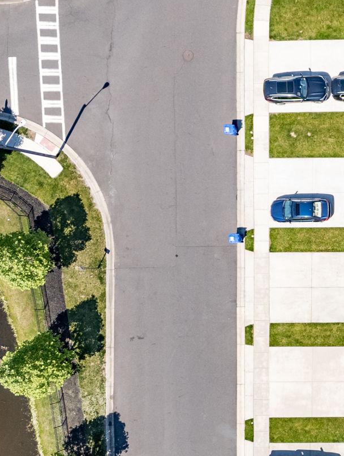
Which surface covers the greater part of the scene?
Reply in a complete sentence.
The bulk of the photo consists of paved ground.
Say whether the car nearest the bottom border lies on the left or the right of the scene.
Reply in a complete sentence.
You can find the car nearest the bottom border on the right side of the picture.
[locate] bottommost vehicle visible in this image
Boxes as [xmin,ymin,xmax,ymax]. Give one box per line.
[269,195,334,226]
